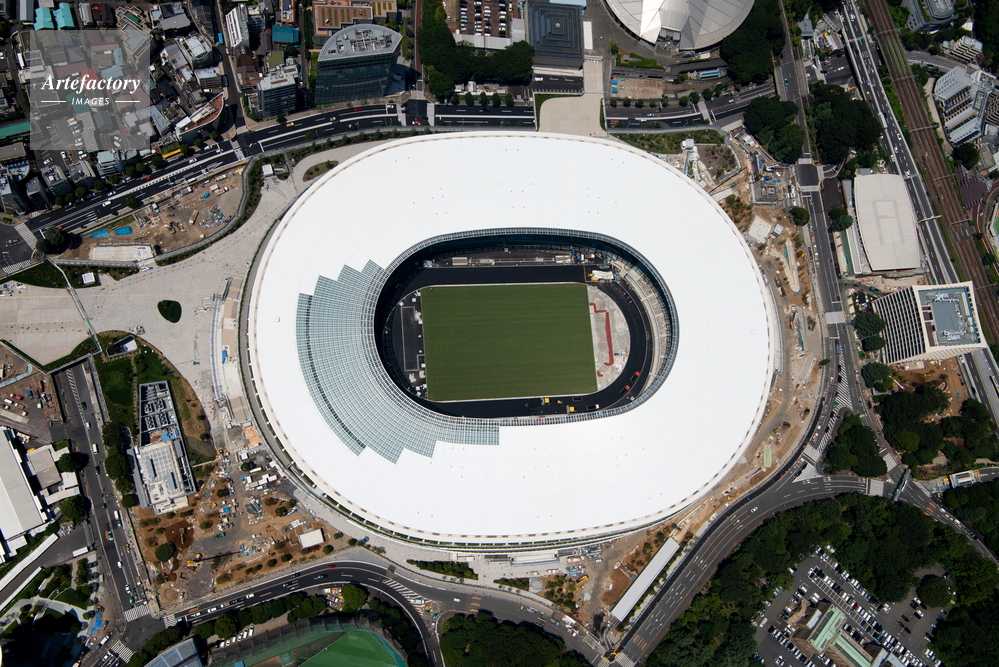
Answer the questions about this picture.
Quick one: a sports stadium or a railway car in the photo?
sports stadium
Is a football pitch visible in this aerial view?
Yes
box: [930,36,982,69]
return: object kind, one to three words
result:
building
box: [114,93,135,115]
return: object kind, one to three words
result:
house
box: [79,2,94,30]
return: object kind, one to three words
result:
house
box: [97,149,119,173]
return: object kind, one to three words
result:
building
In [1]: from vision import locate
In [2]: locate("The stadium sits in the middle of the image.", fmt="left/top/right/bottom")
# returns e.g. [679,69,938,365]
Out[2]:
[239,129,773,558]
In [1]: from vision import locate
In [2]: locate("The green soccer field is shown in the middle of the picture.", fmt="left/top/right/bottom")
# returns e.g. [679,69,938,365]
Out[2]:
[421,285,597,401]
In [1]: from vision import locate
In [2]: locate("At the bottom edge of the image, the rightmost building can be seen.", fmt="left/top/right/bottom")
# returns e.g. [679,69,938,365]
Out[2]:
[783,599,904,667]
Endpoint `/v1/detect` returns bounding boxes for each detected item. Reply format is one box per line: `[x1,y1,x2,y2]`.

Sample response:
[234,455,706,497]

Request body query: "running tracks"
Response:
[373,266,647,418]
